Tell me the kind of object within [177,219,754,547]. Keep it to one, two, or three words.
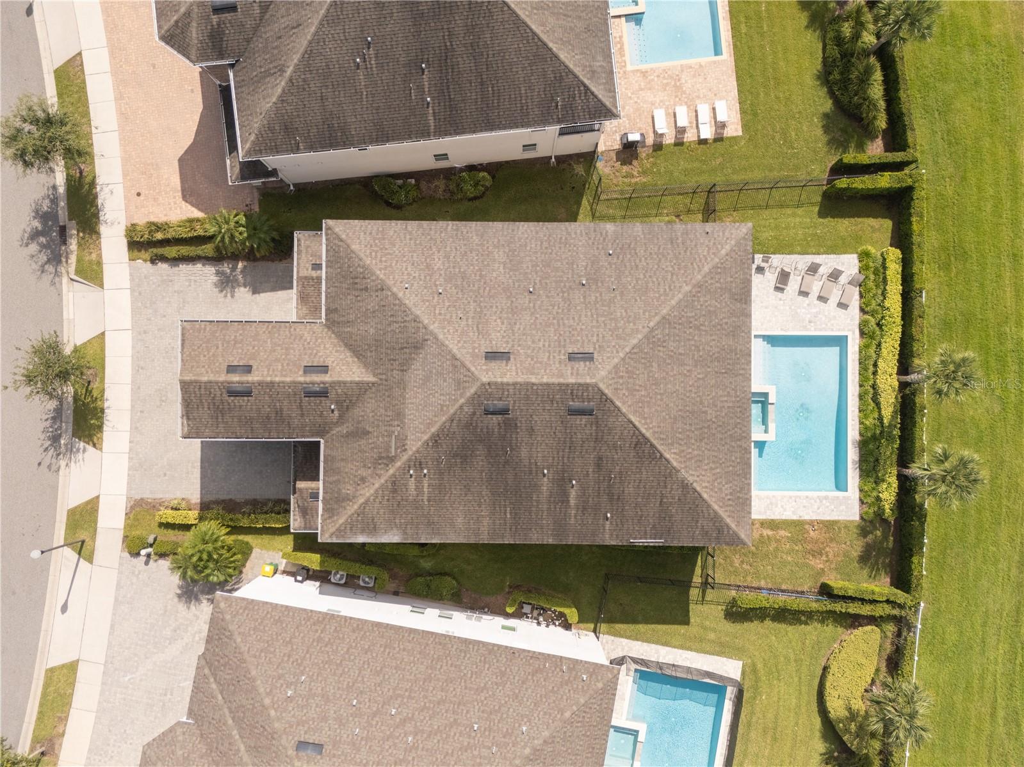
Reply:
house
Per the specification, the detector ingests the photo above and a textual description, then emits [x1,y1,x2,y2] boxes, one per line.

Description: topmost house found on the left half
[149,0,623,191]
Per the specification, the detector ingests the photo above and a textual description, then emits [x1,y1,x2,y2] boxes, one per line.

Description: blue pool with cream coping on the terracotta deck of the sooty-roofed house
[611,0,729,70]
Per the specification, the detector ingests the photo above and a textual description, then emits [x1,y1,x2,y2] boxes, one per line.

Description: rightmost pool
[752,332,851,495]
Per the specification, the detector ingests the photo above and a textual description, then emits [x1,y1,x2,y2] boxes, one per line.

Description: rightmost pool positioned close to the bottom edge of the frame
[602,665,731,767]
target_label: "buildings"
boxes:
[177,219,754,547]
[138,575,621,767]
[149,0,623,191]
